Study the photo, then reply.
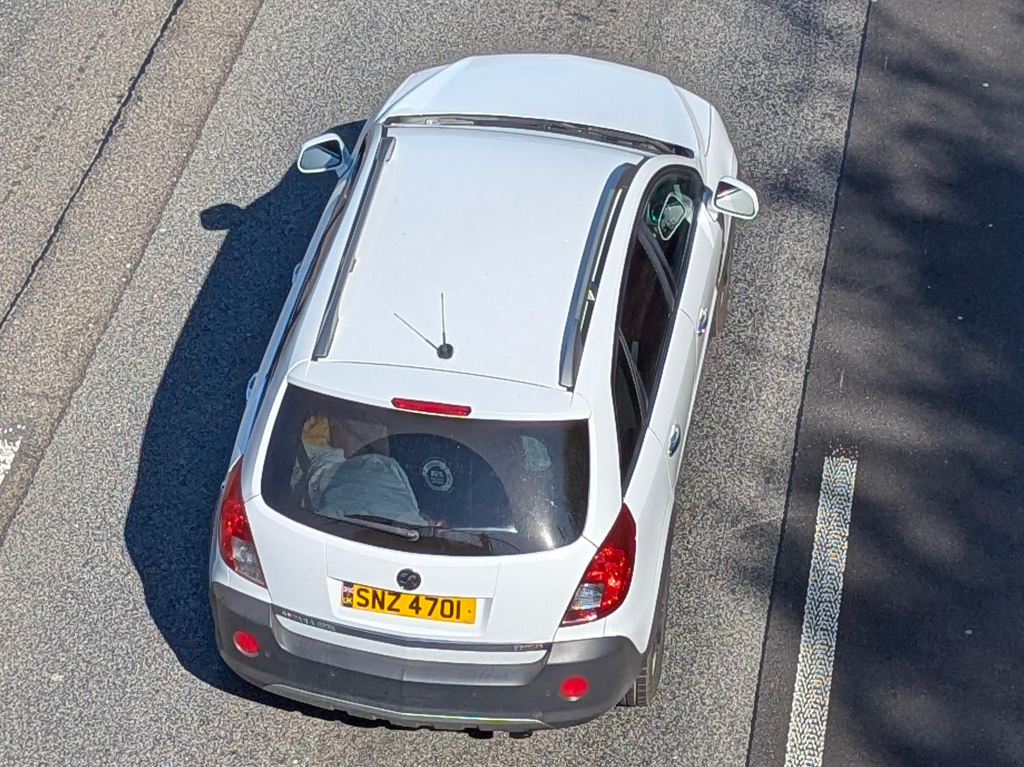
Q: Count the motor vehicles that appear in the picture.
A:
1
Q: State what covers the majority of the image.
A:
paved ground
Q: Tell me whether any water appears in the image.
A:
No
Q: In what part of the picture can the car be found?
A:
center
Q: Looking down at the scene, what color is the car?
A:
white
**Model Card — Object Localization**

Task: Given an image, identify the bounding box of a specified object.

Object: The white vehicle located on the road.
[209,53,758,744]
